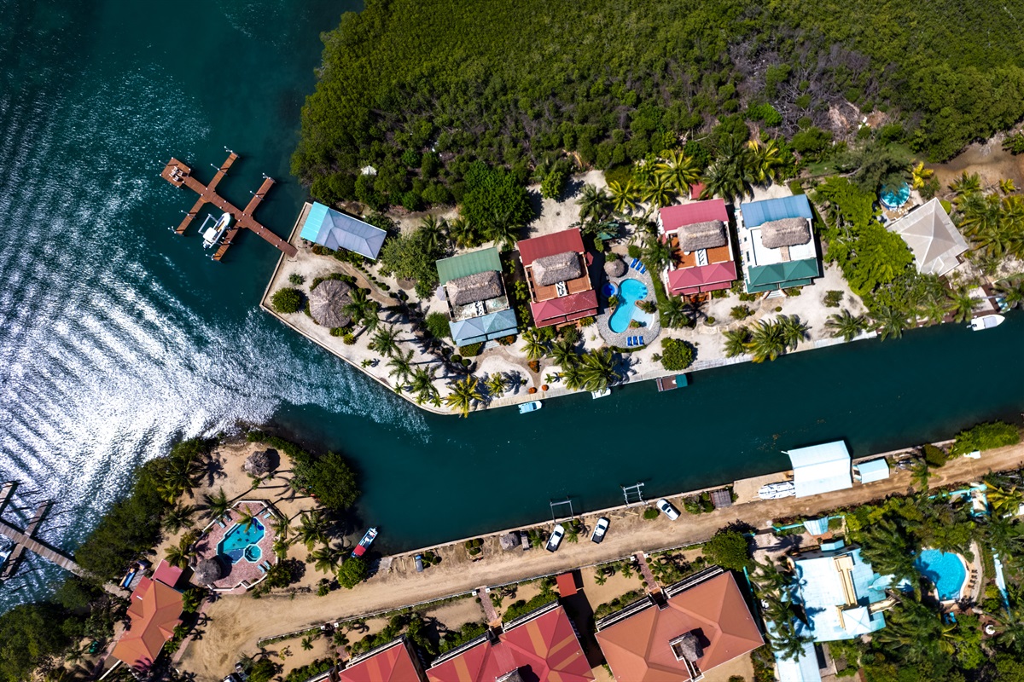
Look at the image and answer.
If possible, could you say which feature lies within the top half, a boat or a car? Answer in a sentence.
It is a boat that can be seen within the top half.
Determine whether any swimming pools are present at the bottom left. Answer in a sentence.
Yes, a swimming pool can be seen at the bottom left.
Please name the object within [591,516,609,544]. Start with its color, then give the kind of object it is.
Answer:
white vehicle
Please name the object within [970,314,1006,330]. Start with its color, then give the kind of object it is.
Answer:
white boat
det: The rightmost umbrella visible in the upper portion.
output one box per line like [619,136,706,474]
[604,258,625,279]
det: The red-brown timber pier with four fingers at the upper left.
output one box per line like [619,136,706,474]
[159,146,298,262]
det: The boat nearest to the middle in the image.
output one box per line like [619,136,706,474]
[515,402,542,414]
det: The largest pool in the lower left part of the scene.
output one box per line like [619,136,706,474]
[191,504,279,589]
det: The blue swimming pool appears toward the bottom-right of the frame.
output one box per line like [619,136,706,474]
[911,543,980,611]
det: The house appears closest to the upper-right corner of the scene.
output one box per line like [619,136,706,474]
[885,197,968,277]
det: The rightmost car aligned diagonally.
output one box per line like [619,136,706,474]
[656,496,680,522]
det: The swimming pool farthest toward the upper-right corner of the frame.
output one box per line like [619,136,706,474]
[878,179,912,210]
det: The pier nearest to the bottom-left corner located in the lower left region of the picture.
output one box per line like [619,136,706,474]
[0,475,85,585]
